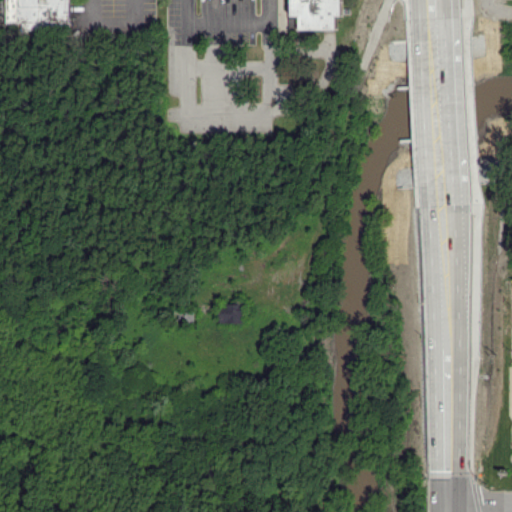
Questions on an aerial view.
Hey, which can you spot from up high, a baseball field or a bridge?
bridge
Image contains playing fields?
No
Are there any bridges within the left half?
No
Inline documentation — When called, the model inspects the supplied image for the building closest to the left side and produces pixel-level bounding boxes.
[4,0,69,32]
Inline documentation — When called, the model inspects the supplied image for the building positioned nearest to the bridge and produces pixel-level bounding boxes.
[288,0,343,32]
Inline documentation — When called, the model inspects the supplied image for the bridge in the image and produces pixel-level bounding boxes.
[398,18,485,207]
